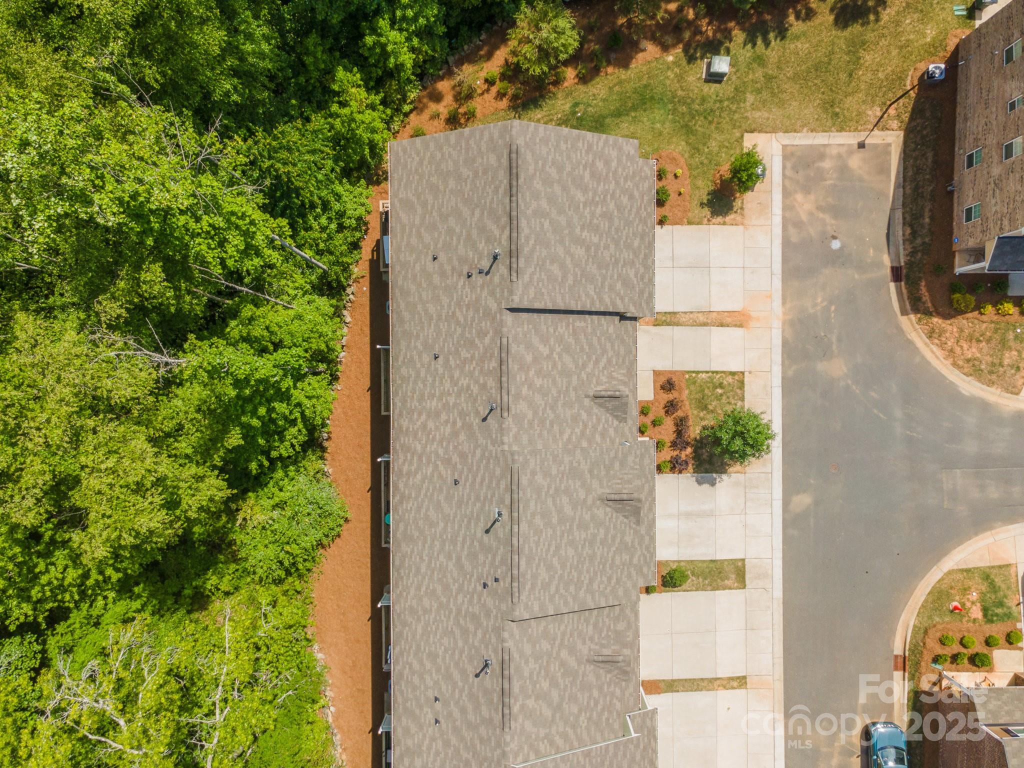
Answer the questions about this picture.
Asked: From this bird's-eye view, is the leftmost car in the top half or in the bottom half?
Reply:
bottom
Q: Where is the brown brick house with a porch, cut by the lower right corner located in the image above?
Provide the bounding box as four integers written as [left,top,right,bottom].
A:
[939,670,1024,768]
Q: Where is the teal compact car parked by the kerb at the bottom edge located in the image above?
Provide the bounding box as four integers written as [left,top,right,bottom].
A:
[866,719,912,768]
